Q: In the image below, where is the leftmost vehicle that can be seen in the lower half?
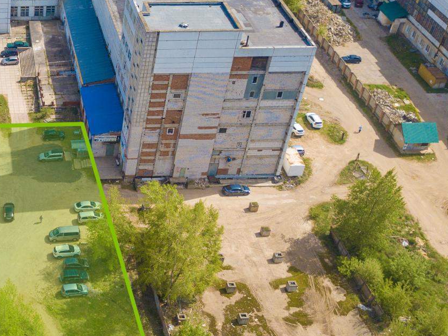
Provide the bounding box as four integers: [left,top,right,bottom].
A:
[2,203,16,223]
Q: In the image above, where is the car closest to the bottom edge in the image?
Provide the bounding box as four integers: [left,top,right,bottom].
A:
[60,283,89,298]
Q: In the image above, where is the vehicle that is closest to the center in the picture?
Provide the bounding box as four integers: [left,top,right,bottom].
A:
[220,184,251,197]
